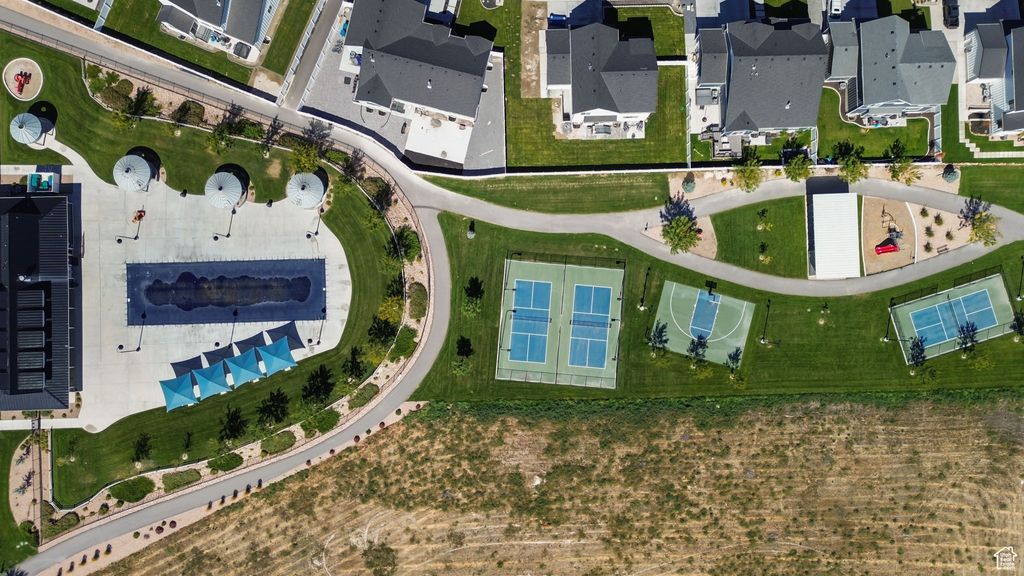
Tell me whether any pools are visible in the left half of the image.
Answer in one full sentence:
Yes, looking in the left half of the image, one can make out a pool.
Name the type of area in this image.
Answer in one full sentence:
It's a residential area.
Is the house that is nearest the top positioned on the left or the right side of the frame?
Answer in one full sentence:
The house that is nearest the top is on the left side of the image.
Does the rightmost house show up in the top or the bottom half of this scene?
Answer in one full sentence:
You can find the rightmost house in the top half.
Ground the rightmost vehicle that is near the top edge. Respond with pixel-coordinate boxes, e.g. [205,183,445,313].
[943,0,963,27]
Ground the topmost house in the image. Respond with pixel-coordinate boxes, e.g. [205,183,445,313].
[158,0,279,54]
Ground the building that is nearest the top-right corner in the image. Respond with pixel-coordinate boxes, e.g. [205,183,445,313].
[960,23,1024,131]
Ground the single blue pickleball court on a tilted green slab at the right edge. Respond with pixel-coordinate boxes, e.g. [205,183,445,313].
[889,273,1018,365]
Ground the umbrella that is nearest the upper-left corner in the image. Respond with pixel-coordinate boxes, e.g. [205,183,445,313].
[10,112,47,143]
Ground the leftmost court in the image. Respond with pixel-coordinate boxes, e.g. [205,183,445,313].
[495,259,625,389]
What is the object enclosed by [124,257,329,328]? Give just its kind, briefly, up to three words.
swimming pool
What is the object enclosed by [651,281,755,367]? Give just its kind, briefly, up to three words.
basketball court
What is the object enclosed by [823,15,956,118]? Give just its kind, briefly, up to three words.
house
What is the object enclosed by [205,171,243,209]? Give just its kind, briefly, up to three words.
umbrella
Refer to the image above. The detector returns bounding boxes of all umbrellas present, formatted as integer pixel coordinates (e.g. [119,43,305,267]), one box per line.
[113,154,152,192]
[286,171,324,209]
[10,112,47,143]
[205,171,243,209]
